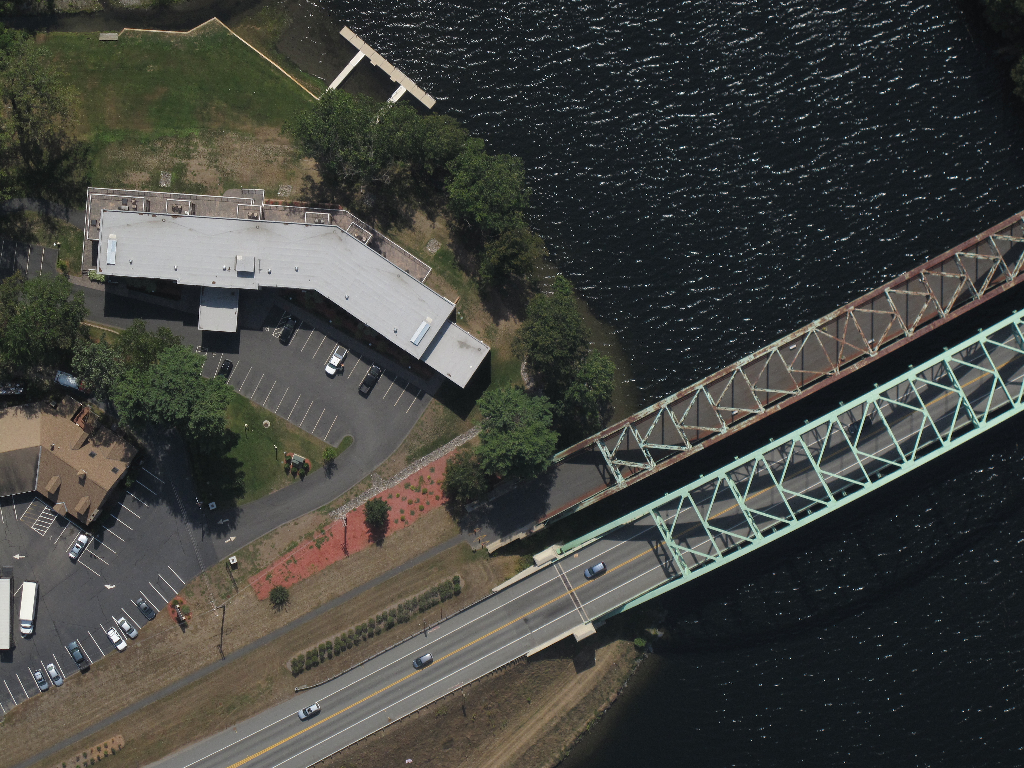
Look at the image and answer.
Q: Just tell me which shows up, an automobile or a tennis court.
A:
automobile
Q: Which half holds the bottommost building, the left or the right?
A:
left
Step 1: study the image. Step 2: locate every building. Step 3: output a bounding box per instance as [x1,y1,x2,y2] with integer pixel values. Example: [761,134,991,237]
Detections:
[97,209,490,384]
[0,396,139,525]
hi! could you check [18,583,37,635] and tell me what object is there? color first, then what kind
white vehicle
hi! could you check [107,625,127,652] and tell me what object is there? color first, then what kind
white car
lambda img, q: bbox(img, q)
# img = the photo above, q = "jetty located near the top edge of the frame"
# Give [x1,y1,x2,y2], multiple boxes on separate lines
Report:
[328,26,436,109]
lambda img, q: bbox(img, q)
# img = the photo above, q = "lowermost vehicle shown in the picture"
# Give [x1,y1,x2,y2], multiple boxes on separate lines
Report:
[297,702,322,721]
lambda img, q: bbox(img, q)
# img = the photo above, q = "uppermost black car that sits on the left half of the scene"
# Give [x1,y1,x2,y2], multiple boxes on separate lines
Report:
[279,316,298,343]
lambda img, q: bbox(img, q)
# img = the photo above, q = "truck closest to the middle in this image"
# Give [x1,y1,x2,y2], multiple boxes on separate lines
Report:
[359,364,381,394]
